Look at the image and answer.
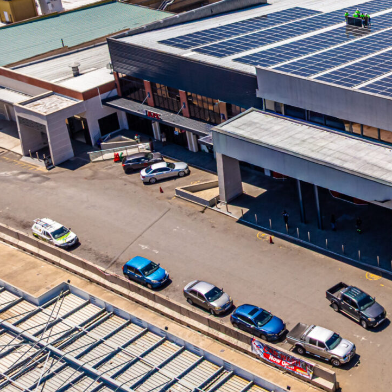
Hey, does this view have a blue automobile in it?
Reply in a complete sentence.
Yes, there is a blue automobile in the image.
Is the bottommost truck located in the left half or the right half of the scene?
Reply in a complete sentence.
The bottommost truck is on the right side of the image.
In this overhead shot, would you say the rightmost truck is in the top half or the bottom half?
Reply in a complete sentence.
You can find the rightmost truck in the bottom half.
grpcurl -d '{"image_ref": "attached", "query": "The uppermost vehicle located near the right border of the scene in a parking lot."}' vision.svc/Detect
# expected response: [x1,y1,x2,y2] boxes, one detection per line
[324,284,387,329]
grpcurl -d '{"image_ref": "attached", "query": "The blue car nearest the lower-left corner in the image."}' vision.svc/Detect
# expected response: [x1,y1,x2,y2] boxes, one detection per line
[122,254,170,289]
